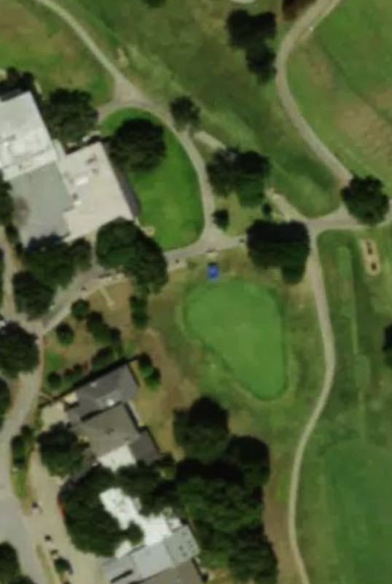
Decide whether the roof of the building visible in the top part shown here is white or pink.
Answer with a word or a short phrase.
white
